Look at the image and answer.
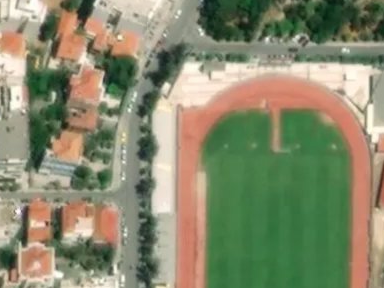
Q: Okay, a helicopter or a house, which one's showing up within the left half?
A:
house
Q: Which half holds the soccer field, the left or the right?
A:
right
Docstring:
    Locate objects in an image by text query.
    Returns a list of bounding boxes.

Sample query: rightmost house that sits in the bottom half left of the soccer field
[94,204,119,246]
